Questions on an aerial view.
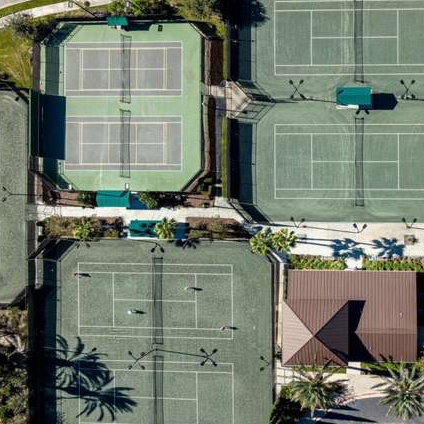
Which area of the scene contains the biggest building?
bottom right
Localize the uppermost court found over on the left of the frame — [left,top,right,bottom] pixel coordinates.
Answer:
[41,22,203,106]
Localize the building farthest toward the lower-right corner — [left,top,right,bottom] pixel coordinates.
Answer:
[283,270,418,366]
